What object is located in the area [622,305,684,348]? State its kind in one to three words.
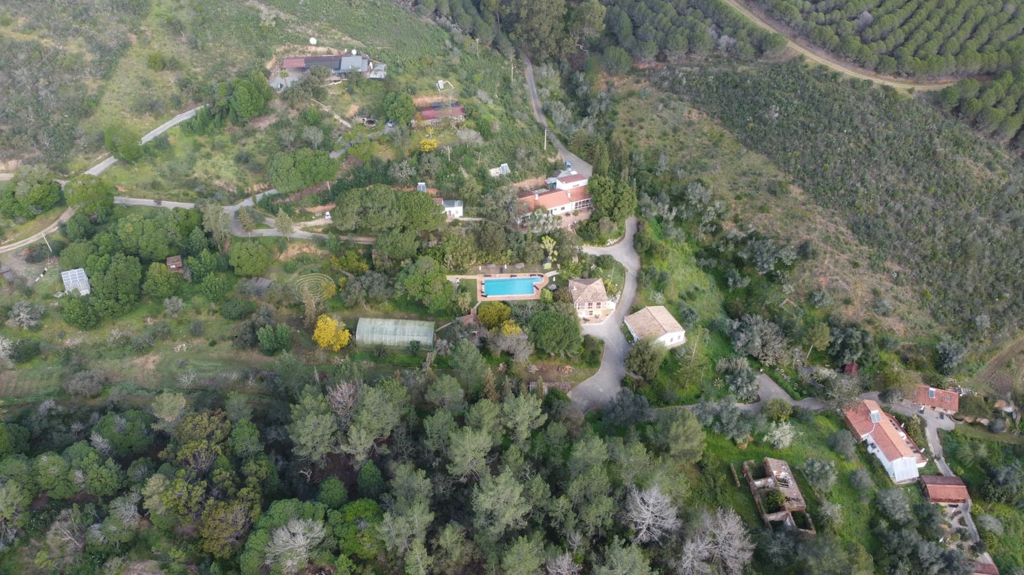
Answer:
house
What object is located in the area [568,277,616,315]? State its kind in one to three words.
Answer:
building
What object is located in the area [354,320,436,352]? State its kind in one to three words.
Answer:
greenhouse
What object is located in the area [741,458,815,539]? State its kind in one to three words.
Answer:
house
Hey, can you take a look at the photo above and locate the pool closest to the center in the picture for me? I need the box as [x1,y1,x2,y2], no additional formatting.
[477,273,549,302]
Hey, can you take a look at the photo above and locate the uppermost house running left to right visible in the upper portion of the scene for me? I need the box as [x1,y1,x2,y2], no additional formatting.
[280,54,371,78]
